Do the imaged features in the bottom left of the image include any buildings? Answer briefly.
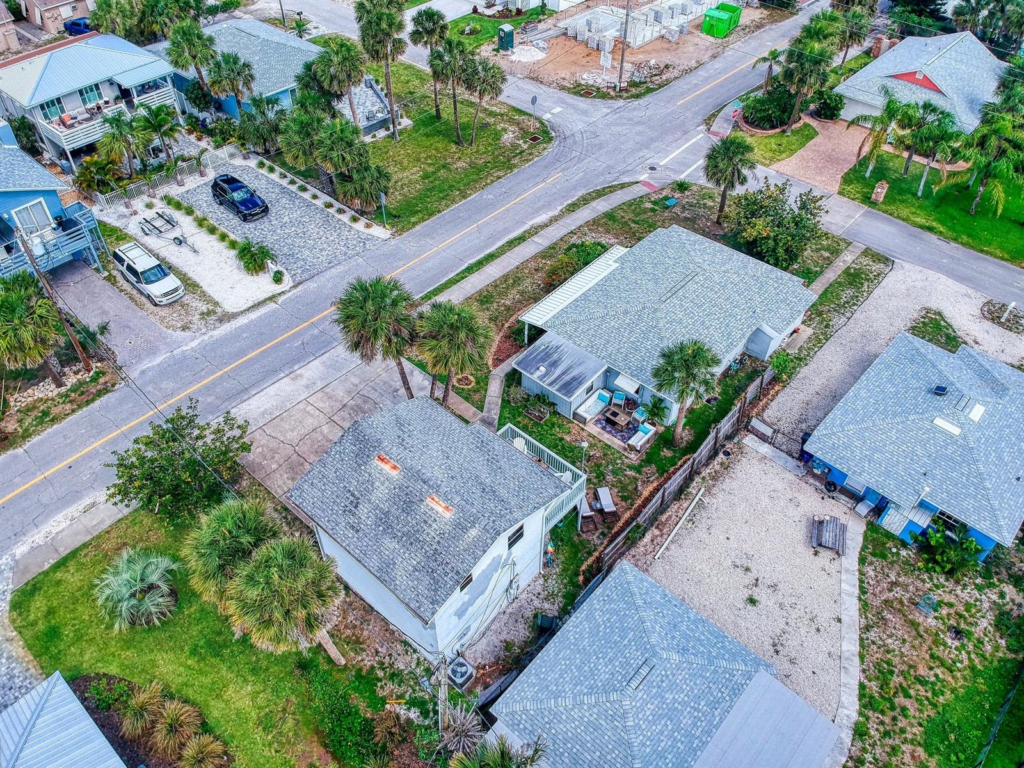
Yes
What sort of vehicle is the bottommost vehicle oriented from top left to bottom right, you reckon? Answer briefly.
automobile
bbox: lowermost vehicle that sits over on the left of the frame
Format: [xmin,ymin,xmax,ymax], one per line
[110,237,190,307]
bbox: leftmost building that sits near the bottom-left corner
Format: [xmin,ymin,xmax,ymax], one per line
[0,671,132,768]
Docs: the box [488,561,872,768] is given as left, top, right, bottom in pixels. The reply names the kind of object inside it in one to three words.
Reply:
house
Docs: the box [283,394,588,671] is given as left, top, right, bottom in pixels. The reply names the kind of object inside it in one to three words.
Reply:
house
